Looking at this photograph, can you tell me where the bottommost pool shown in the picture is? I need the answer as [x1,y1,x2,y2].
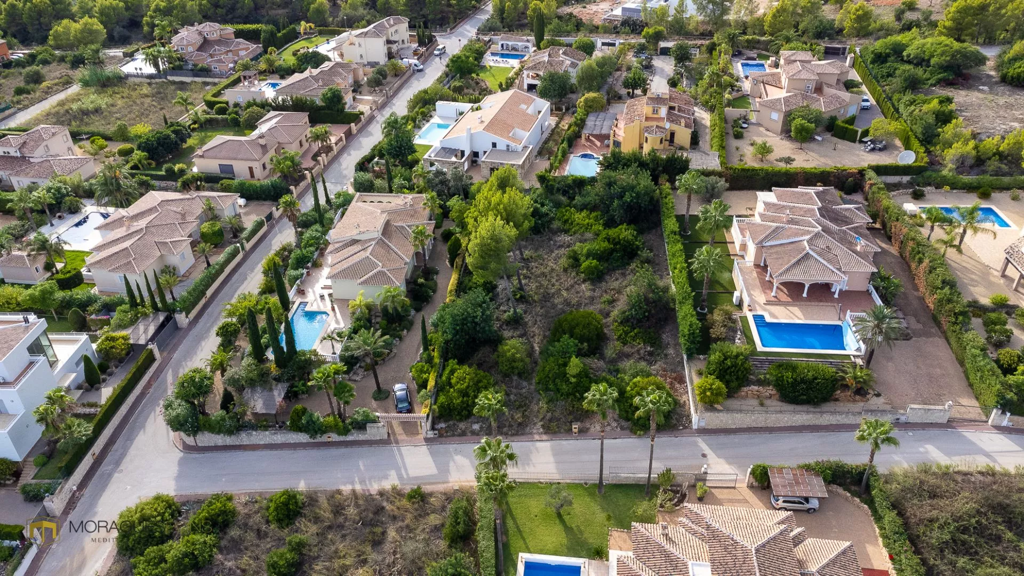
[516,553,588,576]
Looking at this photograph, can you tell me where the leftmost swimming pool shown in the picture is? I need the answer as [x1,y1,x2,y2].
[53,210,111,244]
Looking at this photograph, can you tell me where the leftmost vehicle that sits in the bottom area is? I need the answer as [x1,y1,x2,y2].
[391,380,413,411]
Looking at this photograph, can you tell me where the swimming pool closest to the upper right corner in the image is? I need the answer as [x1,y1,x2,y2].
[920,205,1010,229]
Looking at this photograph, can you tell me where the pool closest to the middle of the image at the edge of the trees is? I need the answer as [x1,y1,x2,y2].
[567,151,600,175]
